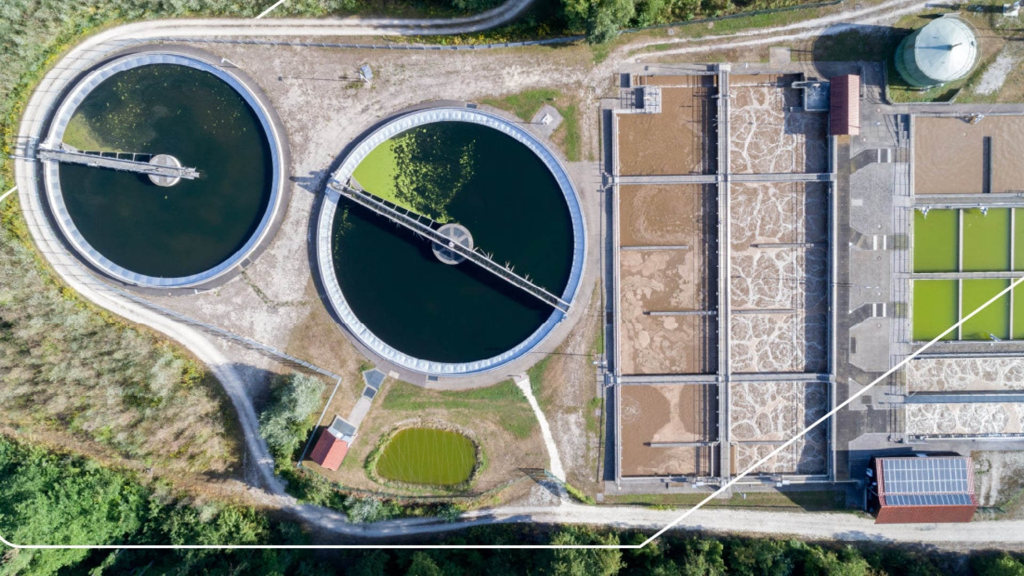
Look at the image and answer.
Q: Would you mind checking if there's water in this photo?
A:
Yes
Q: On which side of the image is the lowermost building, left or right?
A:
right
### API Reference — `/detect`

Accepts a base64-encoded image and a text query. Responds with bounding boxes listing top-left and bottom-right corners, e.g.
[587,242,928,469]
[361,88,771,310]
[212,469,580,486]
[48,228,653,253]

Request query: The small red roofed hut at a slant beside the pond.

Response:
[311,430,349,470]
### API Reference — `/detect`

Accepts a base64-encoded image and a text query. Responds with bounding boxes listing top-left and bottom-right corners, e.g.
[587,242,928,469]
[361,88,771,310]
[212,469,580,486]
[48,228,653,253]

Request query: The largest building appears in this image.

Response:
[865,452,982,524]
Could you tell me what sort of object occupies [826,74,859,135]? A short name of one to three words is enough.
shed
